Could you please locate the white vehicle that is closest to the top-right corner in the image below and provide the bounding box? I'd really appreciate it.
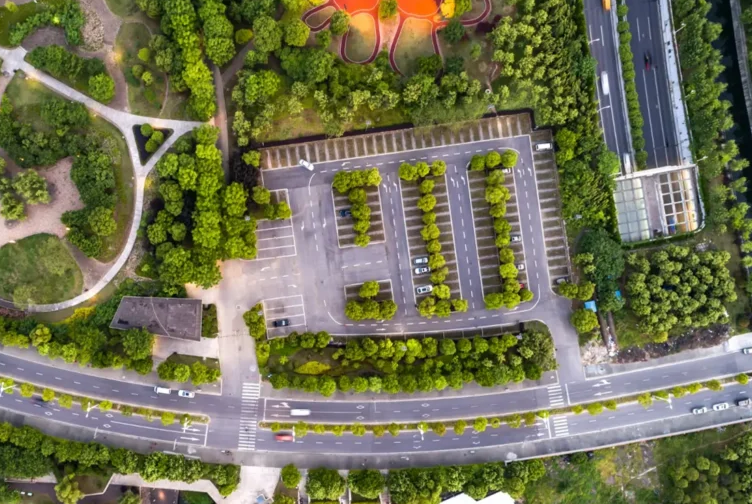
[599,70,611,94]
